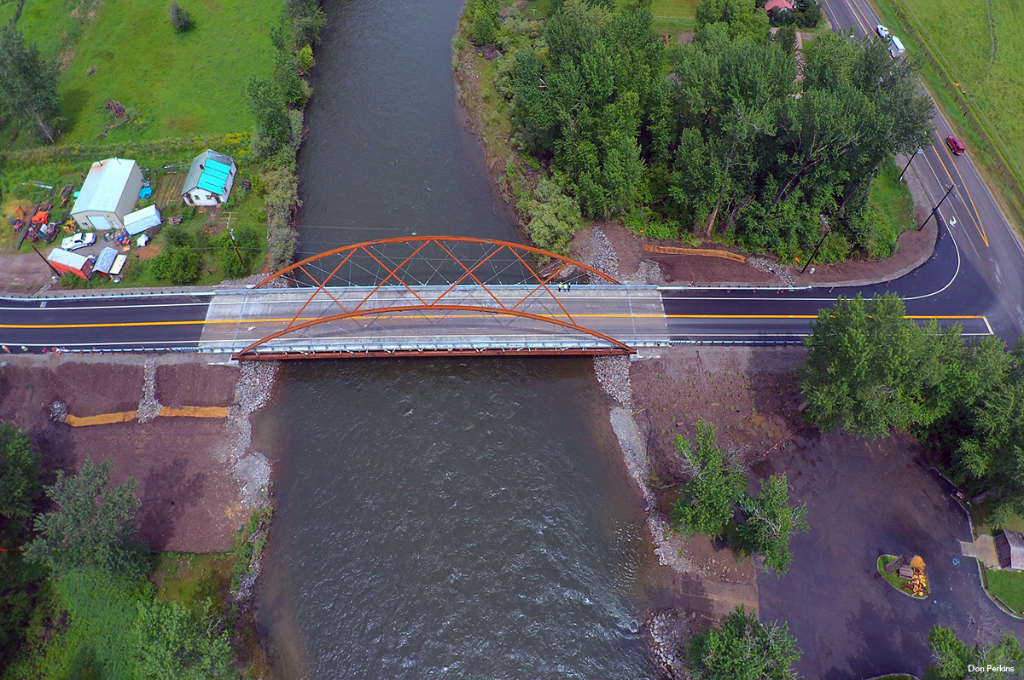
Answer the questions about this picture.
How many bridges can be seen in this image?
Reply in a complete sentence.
In total, there is 1 bridge in the scene.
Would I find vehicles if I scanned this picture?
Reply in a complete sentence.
Yes, this view includes a vehicle.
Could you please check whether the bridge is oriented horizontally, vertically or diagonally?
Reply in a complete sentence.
The bridge is oriented horizontally.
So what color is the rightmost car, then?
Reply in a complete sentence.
From above, the rightmost car appears red.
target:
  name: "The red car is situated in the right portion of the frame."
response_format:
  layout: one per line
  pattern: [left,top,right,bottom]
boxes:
[947,137,974,157]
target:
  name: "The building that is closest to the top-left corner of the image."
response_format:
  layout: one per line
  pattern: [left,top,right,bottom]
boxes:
[68,153,140,231]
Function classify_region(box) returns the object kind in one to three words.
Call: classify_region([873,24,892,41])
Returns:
vehicle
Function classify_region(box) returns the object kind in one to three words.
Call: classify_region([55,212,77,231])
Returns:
work vehicle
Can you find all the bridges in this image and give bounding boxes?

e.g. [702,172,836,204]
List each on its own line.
[192,236,675,372]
